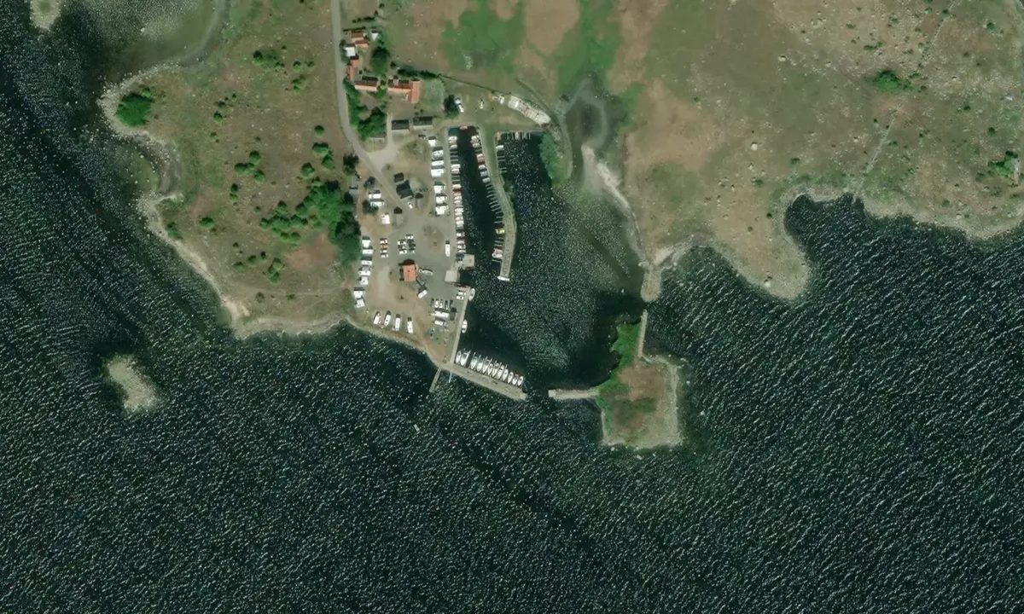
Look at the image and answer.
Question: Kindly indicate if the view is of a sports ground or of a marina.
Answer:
marina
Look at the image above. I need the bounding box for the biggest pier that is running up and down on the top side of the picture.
[478,125,520,278]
